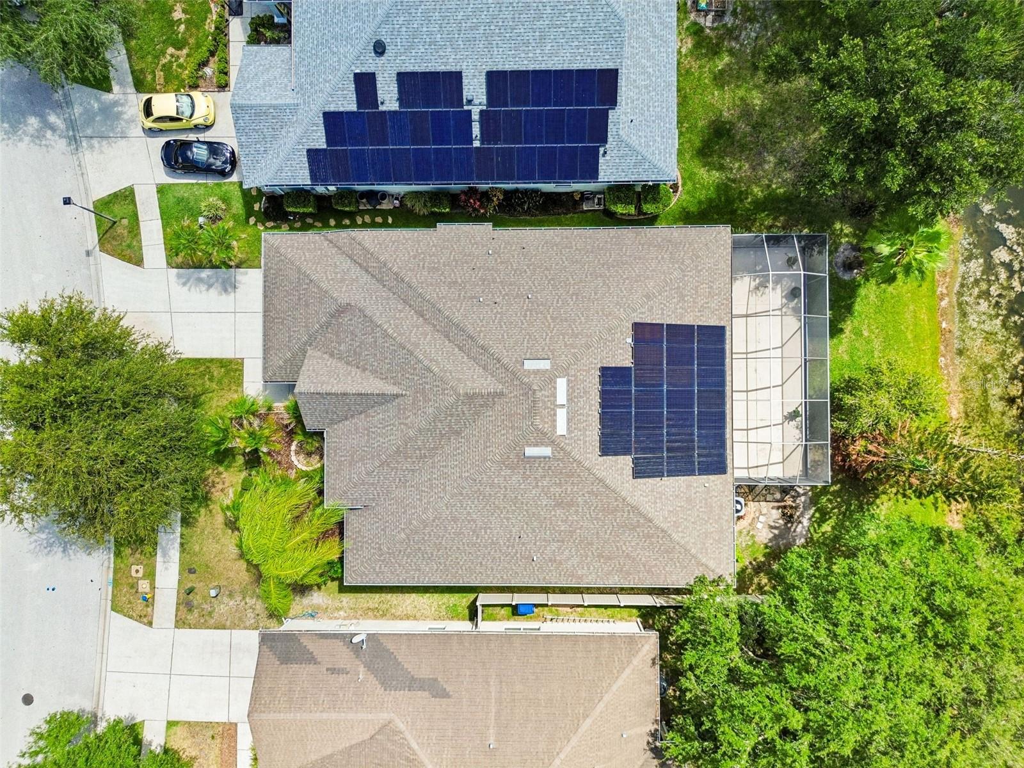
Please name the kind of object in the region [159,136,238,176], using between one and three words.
car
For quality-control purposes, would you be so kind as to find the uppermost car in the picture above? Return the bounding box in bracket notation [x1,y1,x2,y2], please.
[138,87,216,128]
